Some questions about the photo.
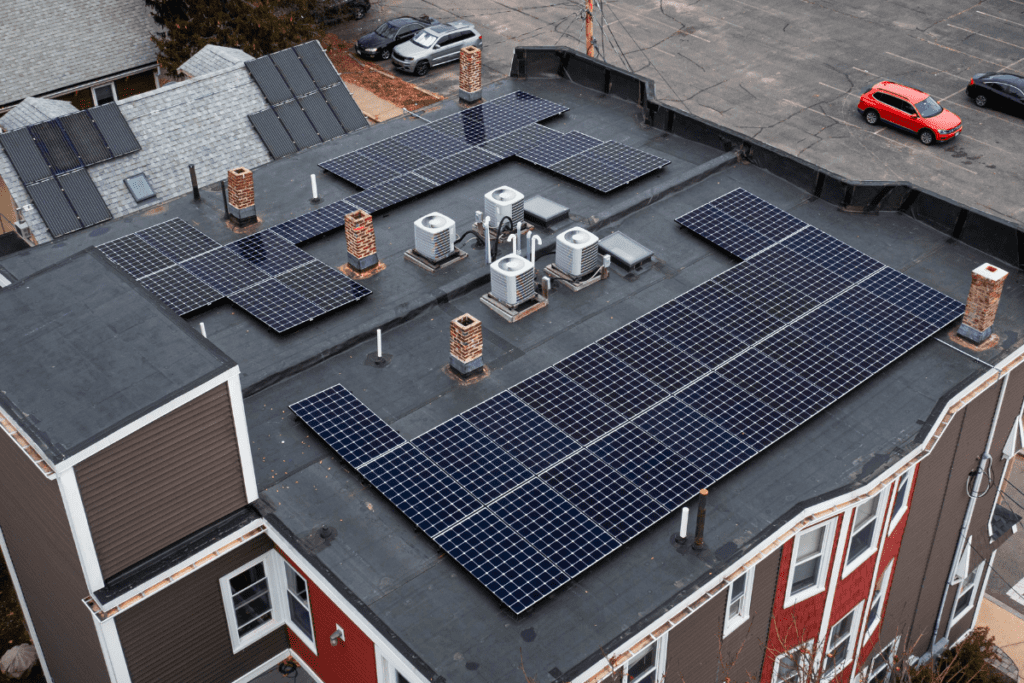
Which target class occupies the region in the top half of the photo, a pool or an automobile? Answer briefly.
automobile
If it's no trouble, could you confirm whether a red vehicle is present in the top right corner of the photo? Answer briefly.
Yes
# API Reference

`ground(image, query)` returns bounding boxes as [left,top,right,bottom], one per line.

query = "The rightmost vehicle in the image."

[966,69,1024,111]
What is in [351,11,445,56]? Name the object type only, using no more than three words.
car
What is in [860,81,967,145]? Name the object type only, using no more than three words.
car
